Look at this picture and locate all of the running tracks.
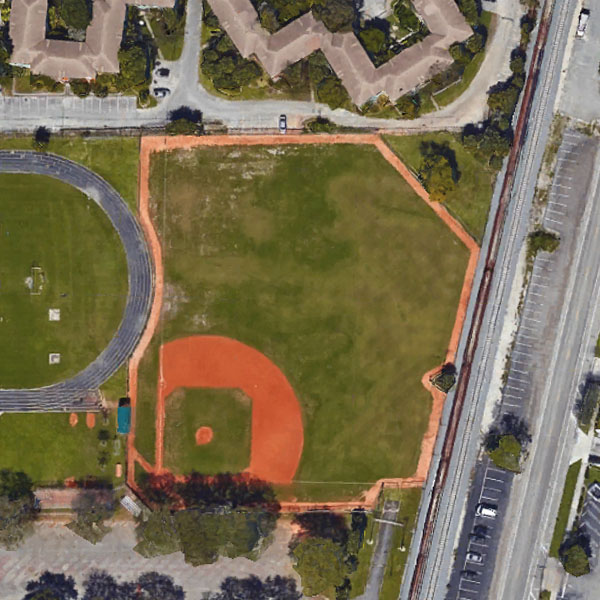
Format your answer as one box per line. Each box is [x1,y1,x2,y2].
[0,151,152,412]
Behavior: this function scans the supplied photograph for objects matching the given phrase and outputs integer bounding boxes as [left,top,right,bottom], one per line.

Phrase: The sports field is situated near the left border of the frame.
[0,173,130,389]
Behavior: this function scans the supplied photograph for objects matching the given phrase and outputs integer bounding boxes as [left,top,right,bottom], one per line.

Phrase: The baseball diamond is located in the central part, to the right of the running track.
[127,134,481,513]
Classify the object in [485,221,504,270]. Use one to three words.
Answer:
rail car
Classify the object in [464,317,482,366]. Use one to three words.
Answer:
rail car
